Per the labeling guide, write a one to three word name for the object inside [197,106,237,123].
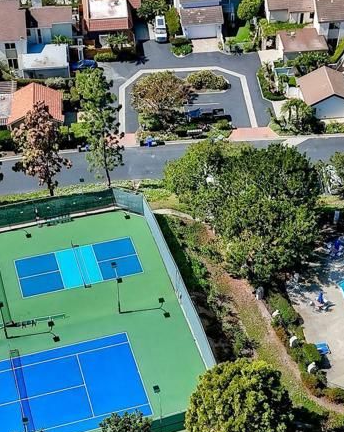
vehicle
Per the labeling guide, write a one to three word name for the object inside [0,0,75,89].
house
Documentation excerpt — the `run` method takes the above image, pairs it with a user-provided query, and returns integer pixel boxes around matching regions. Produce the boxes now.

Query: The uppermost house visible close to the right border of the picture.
[266,0,344,69]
